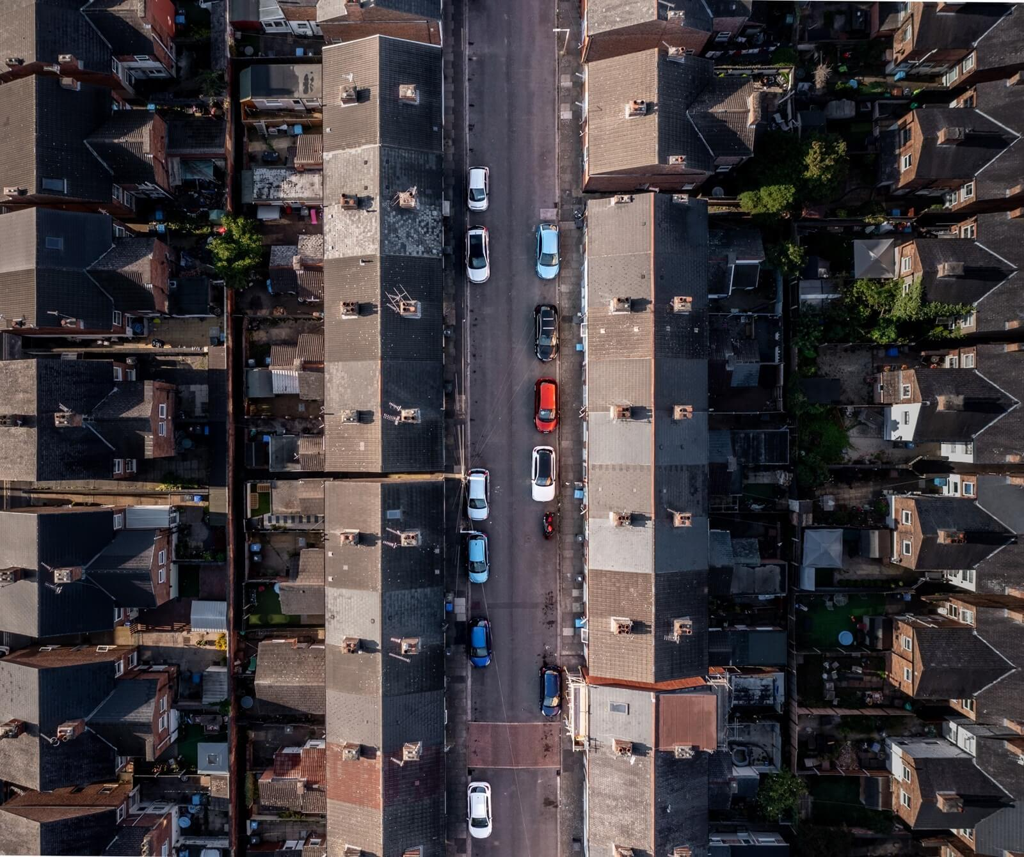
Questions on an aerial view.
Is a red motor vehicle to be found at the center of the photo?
Yes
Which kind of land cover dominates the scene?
buildings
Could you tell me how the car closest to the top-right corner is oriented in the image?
up and down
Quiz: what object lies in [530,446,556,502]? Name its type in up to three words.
car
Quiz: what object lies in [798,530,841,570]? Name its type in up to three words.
gazebo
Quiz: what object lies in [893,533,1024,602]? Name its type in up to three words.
house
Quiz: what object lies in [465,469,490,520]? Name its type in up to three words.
car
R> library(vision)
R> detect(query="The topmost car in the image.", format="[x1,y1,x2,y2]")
[468,166,492,211]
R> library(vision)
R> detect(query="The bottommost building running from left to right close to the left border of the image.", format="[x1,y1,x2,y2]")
[0,784,173,857]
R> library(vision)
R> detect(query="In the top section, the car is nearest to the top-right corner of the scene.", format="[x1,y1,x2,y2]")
[536,223,563,281]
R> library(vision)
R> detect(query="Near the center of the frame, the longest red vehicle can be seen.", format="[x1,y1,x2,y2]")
[534,378,560,434]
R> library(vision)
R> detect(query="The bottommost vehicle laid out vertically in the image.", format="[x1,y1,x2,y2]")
[463,782,489,838]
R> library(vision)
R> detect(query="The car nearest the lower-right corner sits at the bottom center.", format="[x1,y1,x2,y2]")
[536,666,561,717]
